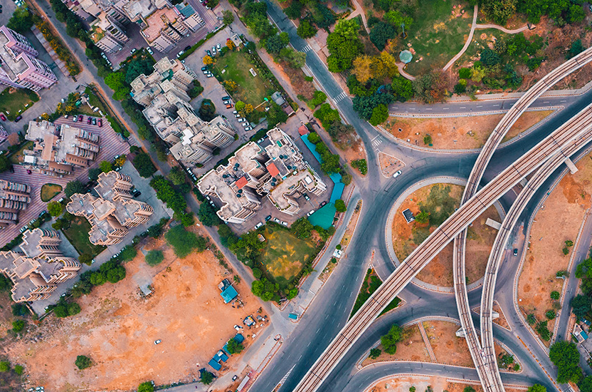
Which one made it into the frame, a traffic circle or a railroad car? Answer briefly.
traffic circle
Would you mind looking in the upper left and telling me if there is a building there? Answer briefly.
Yes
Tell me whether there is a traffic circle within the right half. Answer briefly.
Yes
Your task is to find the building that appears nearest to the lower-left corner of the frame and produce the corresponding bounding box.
[0,225,86,305]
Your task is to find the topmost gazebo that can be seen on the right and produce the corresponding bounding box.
[399,50,412,65]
